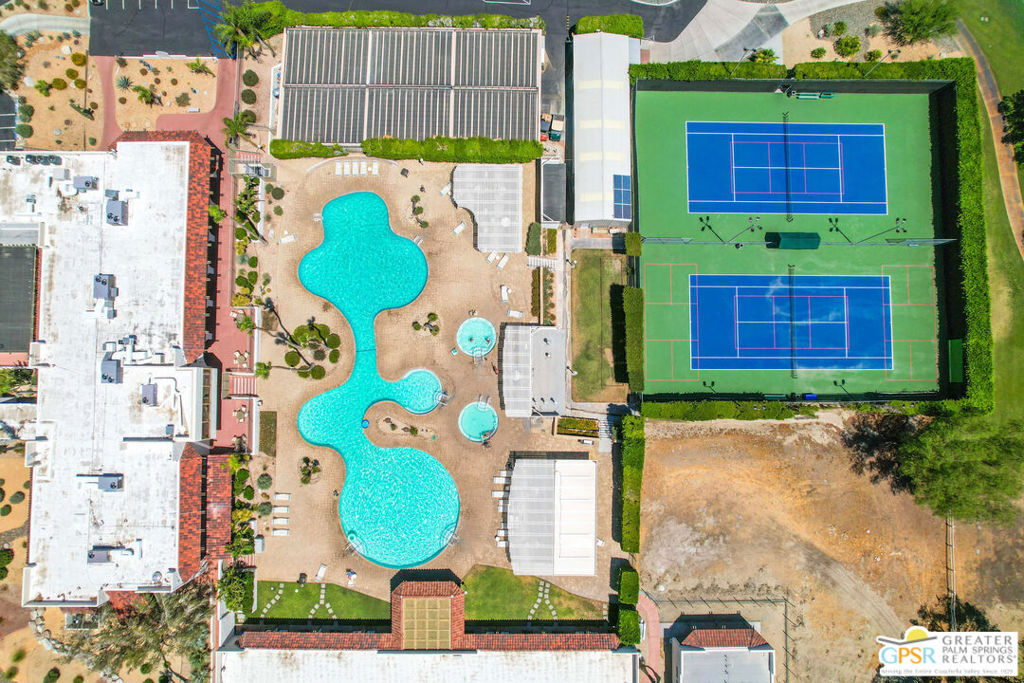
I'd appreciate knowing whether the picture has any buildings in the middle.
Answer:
Yes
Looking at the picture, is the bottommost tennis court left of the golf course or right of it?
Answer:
on its left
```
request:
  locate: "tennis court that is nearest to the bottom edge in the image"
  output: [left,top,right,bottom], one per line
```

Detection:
[640,240,946,406]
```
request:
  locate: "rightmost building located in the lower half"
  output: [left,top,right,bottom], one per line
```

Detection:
[666,627,775,683]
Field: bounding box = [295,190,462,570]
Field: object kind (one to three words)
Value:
swimming pool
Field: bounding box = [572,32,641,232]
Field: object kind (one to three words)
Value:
building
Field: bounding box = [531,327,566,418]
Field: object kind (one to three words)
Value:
building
